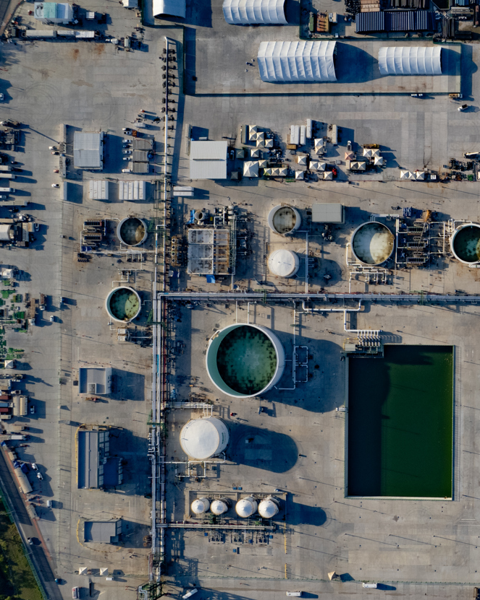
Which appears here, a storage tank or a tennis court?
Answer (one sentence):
There is a storage tank in the scene.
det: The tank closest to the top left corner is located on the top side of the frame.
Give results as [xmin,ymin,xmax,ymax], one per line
[117,216,152,246]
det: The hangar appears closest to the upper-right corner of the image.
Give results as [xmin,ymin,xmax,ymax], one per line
[376,46,440,75]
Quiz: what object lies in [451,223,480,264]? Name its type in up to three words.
storage tank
